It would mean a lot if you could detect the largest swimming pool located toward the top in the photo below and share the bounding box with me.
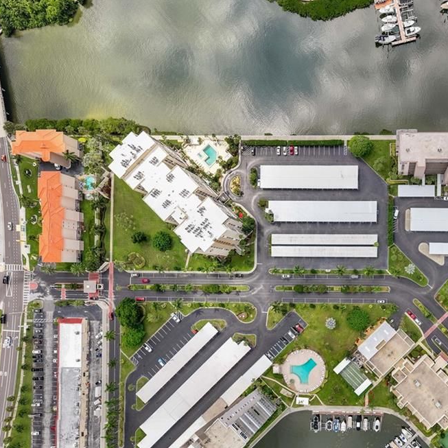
[185,139,232,174]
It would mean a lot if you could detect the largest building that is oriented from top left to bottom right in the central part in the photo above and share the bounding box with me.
[108,131,247,257]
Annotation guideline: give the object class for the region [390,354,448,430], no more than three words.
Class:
building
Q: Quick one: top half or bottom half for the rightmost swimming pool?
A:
bottom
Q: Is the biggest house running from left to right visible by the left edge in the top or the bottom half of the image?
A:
top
